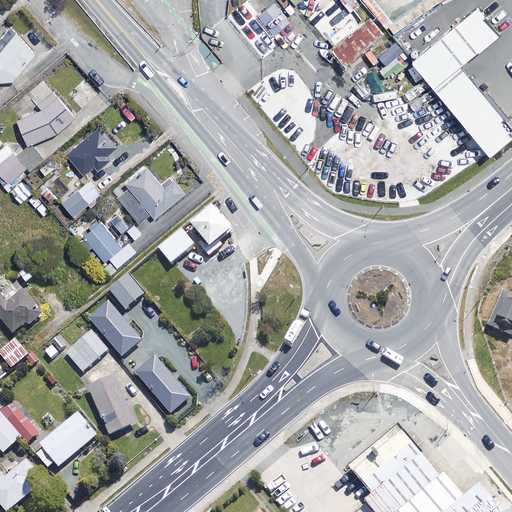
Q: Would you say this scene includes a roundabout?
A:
Yes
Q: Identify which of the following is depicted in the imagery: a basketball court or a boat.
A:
boat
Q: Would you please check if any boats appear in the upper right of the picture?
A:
Yes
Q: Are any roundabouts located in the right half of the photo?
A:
Yes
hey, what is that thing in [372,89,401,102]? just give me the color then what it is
white vehicle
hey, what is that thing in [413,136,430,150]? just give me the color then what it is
white car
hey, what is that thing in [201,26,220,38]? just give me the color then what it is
white vehicle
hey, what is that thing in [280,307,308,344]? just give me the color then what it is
white truck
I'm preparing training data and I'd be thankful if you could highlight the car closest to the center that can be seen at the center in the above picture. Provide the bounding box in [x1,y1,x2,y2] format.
[218,244,234,258]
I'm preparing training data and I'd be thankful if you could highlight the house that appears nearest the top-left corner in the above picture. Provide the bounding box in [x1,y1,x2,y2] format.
[0,28,35,82]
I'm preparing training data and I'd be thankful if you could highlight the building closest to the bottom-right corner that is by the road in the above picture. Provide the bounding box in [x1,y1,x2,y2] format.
[348,424,502,512]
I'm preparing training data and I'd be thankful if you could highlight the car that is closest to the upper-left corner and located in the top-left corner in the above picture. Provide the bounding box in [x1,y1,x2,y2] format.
[26,30,40,46]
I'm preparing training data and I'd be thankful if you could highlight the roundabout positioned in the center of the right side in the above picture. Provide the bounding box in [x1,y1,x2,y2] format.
[347,265,412,330]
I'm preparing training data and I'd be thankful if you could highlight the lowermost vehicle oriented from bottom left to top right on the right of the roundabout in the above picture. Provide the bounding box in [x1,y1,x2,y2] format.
[438,264,454,283]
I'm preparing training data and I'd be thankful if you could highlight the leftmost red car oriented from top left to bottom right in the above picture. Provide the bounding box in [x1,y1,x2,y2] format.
[120,104,134,120]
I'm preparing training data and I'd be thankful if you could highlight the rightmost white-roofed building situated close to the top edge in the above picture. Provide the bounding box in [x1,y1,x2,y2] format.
[412,8,512,160]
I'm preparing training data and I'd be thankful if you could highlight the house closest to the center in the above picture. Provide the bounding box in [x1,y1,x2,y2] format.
[190,202,231,255]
